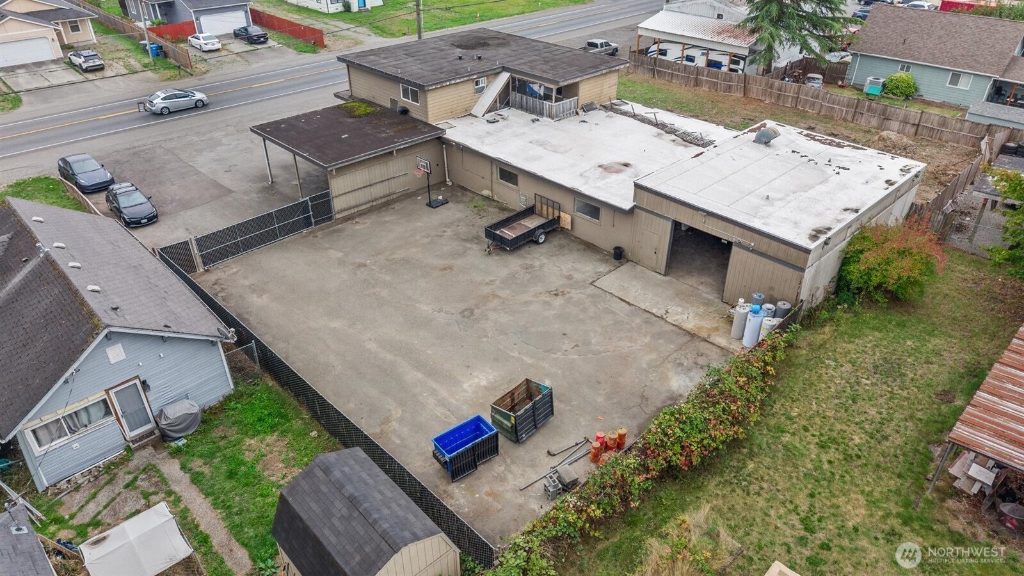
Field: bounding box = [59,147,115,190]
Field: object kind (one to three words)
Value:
car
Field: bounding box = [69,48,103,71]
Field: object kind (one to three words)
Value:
car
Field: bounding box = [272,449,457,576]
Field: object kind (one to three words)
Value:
shed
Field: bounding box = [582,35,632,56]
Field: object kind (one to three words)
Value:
truck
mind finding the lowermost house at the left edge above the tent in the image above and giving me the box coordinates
[0,197,236,490]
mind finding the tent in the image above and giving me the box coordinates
[78,502,206,576]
